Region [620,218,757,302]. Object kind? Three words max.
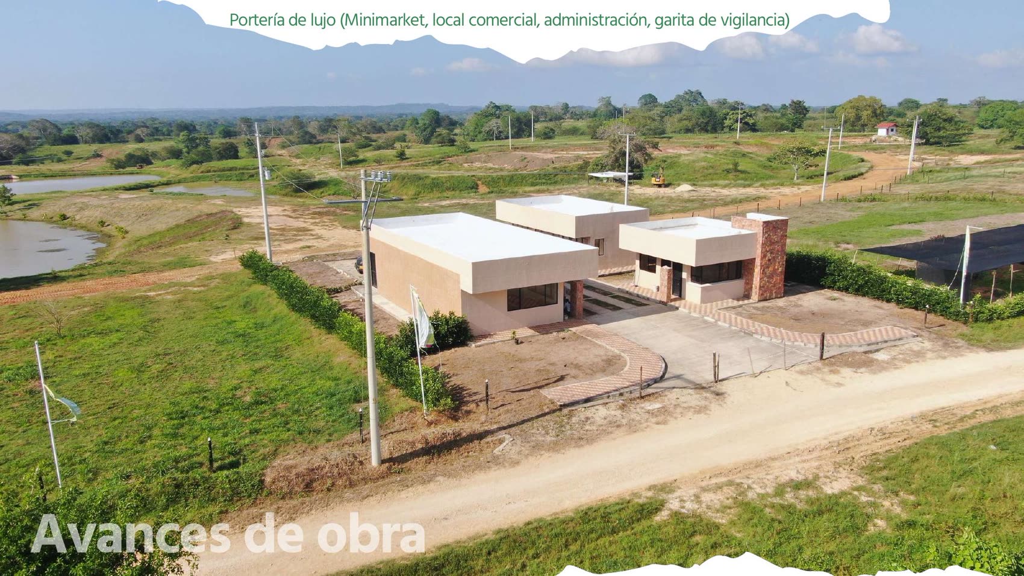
building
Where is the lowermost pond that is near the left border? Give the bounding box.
[0,220,108,278]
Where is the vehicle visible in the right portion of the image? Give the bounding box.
[651,164,666,189]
